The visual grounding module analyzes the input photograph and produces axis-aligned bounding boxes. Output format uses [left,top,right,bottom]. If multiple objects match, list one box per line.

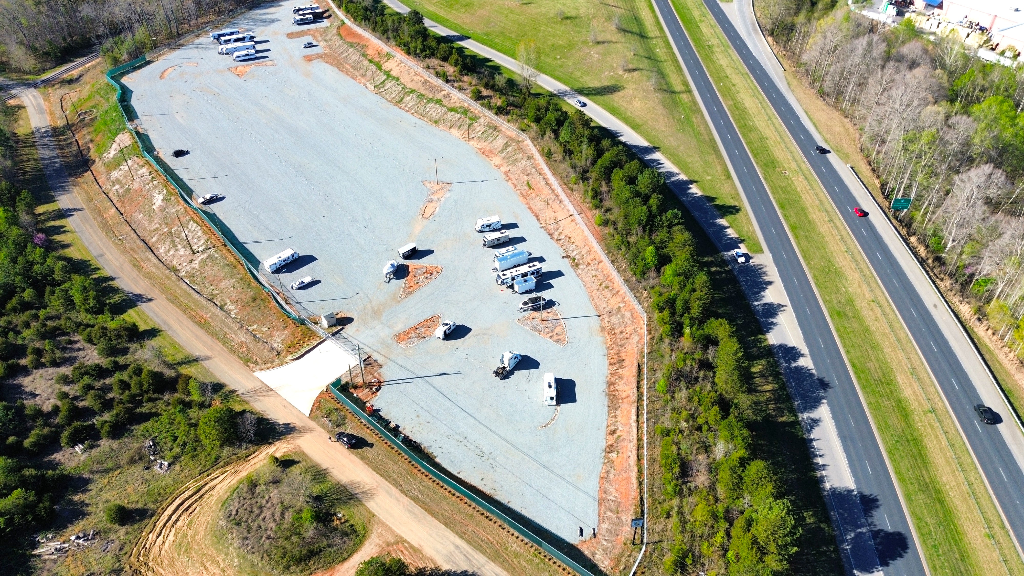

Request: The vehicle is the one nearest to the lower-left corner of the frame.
[334,430,355,448]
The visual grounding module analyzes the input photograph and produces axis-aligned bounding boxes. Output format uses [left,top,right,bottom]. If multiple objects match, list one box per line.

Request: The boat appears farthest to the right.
[517,294,550,308]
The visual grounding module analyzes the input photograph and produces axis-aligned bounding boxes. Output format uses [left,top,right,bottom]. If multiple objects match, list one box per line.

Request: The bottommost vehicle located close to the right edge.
[977,403,996,422]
